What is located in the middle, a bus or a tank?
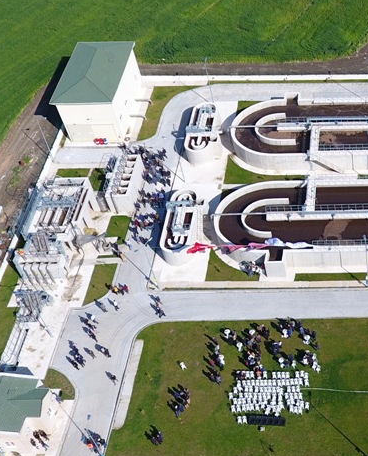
tank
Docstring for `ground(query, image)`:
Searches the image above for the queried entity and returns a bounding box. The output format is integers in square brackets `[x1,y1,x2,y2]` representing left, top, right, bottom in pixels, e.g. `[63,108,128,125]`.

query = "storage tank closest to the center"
[158,188,218,263]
